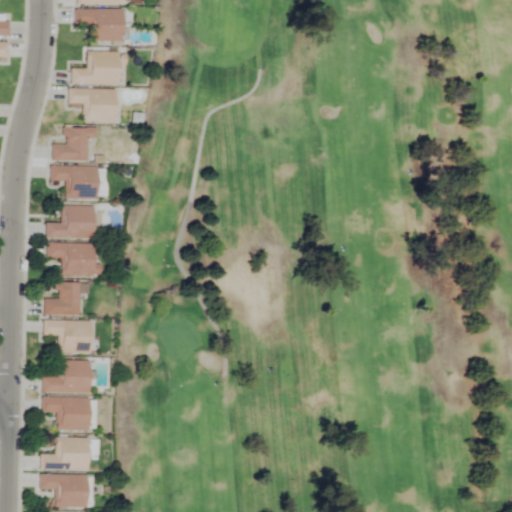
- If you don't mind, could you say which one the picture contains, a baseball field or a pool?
pool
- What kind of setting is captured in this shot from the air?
golf course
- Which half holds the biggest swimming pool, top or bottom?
top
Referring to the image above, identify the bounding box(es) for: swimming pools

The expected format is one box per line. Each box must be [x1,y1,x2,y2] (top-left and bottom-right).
[108,209,122,226]
[124,28,157,47]
[122,90,148,106]
[96,362,108,386]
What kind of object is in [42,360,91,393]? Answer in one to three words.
house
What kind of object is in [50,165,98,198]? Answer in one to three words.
house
